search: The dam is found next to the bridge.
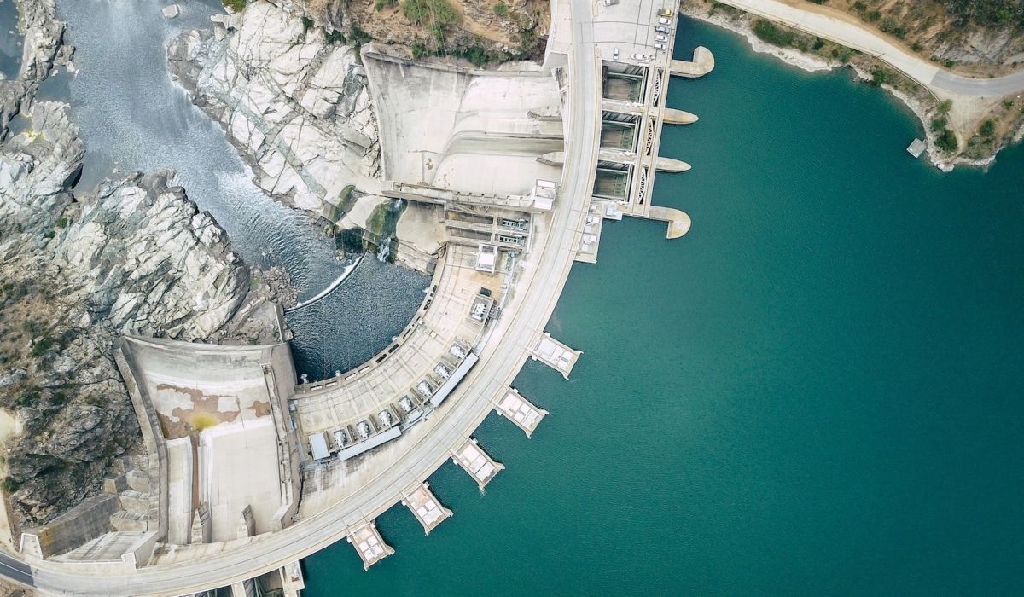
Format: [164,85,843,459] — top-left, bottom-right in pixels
[30,0,603,597]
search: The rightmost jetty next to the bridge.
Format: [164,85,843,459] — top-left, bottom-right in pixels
[661,46,714,79]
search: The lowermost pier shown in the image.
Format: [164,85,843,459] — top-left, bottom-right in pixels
[590,198,691,239]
